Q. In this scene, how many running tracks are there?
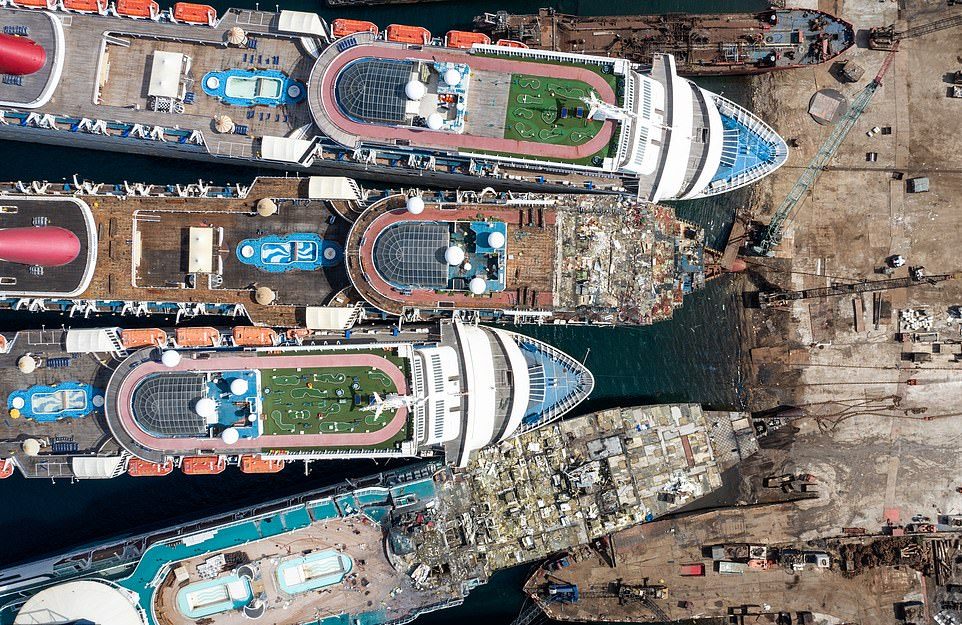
3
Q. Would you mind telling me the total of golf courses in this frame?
two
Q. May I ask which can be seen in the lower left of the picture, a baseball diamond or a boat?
boat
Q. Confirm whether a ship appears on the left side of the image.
Yes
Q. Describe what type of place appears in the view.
parking lot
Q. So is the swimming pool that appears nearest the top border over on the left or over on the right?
left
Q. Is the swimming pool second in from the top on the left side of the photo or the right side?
left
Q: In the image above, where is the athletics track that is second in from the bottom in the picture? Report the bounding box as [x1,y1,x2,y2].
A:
[357,206,551,309]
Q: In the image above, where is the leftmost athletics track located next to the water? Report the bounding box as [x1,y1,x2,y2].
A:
[118,350,412,451]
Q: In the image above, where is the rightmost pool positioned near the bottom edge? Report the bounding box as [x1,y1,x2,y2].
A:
[276,546,355,595]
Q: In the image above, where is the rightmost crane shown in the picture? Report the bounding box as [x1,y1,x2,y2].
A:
[860,8,962,55]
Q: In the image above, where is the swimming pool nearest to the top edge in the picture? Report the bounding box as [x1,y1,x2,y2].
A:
[200,65,307,109]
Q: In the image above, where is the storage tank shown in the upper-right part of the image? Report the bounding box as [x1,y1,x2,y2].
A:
[807,87,847,126]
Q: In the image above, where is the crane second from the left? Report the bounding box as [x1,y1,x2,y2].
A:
[631,577,676,625]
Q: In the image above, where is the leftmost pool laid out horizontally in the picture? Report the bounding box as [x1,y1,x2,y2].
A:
[4,382,108,423]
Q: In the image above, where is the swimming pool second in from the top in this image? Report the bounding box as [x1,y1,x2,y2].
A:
[235,232,343,273]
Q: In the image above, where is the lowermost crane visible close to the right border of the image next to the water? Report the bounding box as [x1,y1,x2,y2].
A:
[744,274,955,309]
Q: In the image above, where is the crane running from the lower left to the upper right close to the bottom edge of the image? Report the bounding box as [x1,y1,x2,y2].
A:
[520,577,581,625]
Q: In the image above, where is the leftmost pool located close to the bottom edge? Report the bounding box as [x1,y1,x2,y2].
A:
[177,571,257,617]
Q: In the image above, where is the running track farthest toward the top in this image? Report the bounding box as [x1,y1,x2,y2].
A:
[319,43,613,161]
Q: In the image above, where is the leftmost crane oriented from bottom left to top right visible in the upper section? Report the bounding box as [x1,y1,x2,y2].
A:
[741,38,908,263]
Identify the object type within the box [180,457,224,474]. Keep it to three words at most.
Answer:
boat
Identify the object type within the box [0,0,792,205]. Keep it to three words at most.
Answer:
ship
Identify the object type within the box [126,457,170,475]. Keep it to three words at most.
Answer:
boat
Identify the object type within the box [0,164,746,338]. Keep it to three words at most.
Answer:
ship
